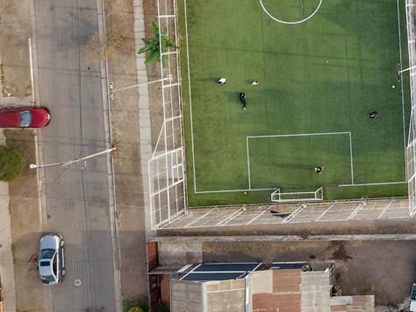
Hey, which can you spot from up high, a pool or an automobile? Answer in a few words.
automobile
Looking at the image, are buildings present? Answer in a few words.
Yes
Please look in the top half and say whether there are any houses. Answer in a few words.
No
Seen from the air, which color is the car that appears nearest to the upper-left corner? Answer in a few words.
red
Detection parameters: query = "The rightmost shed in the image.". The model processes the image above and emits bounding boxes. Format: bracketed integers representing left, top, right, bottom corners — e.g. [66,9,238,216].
[331,294,375,312]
